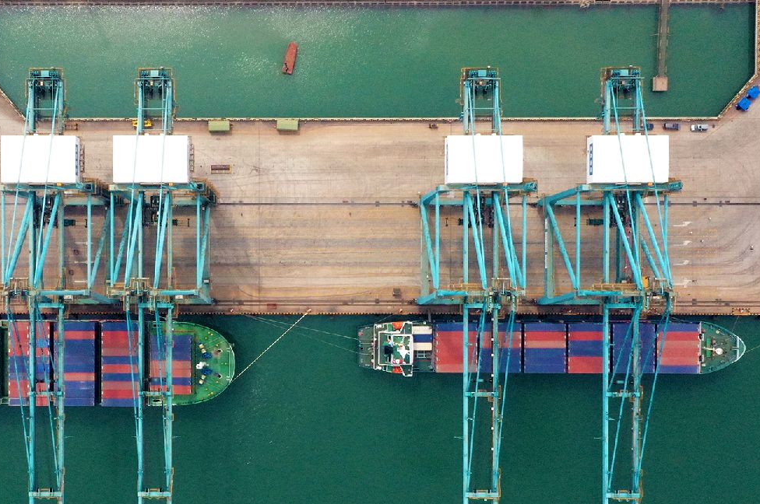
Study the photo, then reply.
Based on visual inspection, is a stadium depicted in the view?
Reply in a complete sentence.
No, no stadium is visible in the scene.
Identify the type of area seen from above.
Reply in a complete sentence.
This image shows a port.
